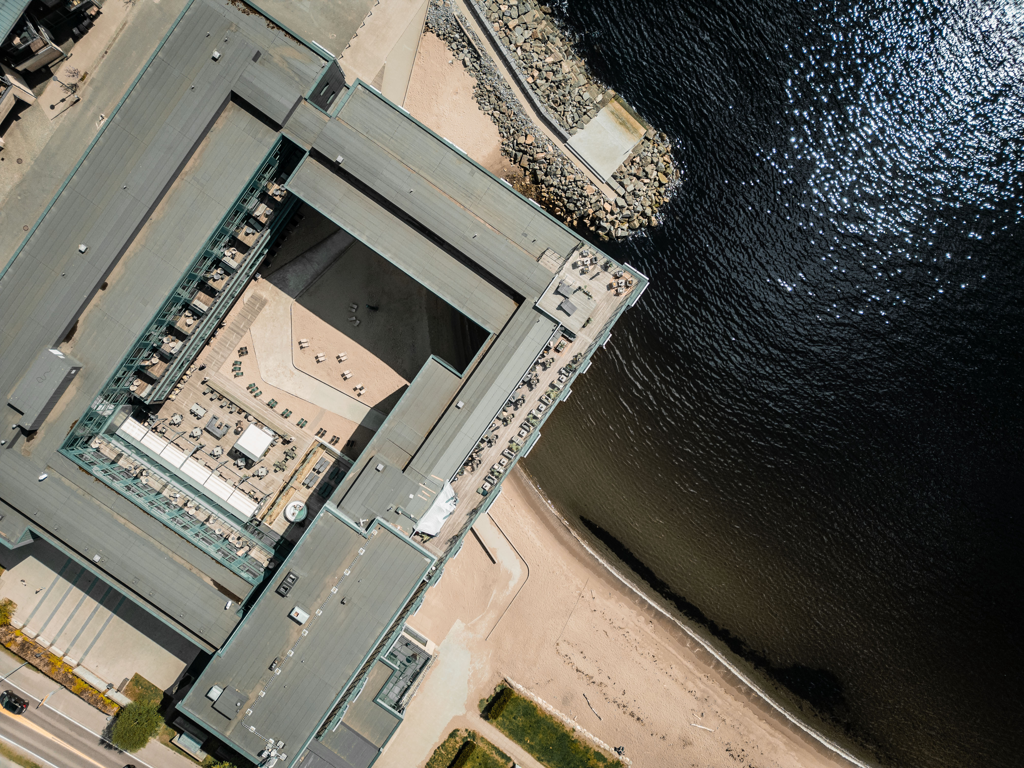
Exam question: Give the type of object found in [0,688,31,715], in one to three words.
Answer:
car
